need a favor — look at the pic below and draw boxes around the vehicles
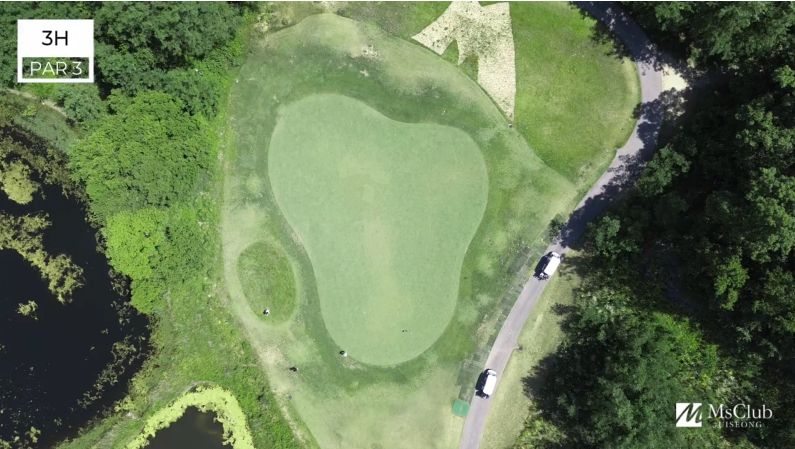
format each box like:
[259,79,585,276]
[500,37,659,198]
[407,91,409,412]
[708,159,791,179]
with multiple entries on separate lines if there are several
[479,368,496,395]
[537,252,559,278]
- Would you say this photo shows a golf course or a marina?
golf course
